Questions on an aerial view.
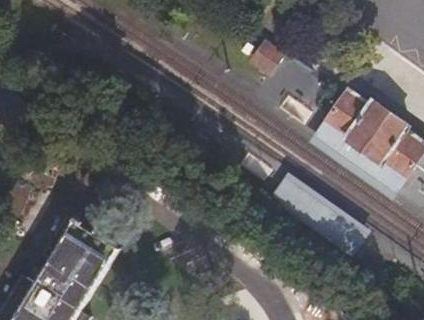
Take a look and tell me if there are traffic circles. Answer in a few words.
No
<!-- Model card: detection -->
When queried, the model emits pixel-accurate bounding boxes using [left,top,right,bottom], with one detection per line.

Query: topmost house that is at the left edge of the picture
[11,176,56,218]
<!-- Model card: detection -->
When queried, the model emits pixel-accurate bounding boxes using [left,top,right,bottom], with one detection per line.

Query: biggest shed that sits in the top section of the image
[249,40,285,77]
